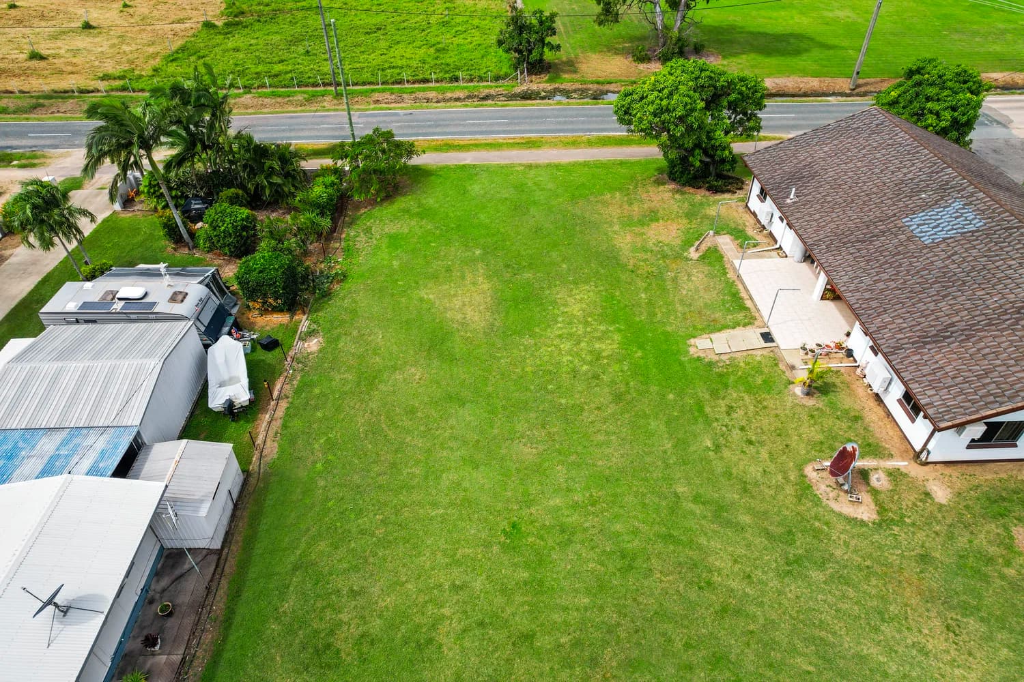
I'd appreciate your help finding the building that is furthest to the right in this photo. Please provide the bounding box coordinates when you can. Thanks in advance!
[735,105,1024,458]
